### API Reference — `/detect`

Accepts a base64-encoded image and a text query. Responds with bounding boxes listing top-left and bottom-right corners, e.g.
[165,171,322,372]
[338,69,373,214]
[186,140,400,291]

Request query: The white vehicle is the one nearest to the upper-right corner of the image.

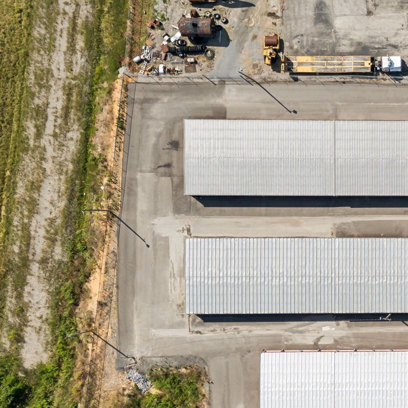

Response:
[364,53,404,73]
